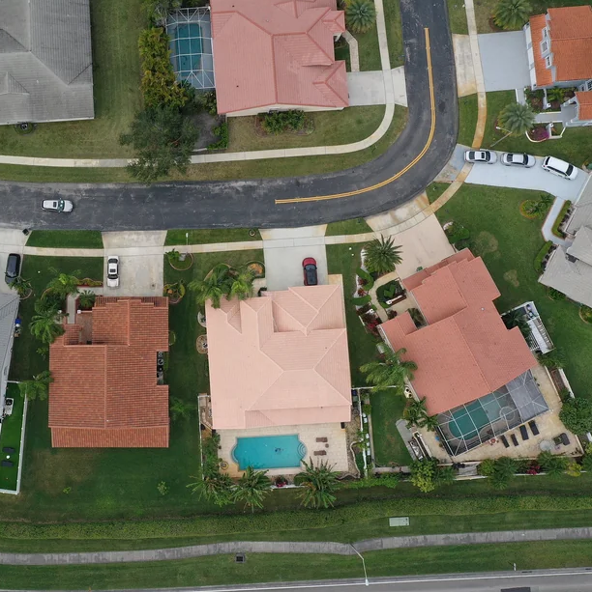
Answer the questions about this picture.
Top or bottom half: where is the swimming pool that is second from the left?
bottom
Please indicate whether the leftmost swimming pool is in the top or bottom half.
top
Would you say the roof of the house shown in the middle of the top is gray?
No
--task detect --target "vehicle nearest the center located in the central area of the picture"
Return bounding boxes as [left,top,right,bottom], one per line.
[303,257,317,285]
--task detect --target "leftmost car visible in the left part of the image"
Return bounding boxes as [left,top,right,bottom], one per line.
[4,254,21,283]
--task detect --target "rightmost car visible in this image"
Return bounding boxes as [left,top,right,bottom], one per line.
[541,155,577,178]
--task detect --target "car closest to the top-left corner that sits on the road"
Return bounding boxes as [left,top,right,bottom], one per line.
[41,198,74,213]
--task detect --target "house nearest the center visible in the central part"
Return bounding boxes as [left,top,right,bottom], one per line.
[205,284,352,428]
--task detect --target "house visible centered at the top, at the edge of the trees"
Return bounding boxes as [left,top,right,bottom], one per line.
[211,0,349,115]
